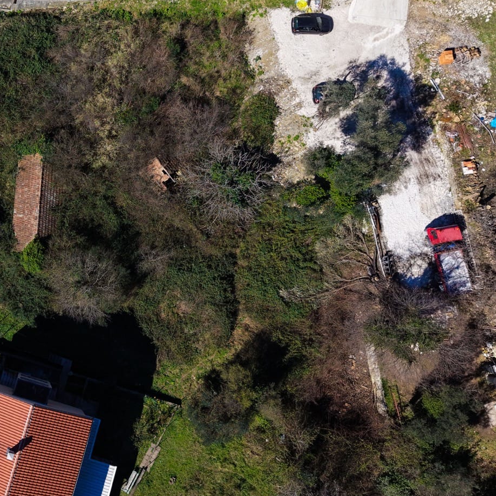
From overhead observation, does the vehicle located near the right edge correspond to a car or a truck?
truck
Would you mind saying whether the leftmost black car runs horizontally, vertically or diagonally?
horizontally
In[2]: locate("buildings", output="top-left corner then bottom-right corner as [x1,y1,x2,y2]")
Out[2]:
[145,154,184,192]
[12,155,55,247]
[0,376,117,496]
